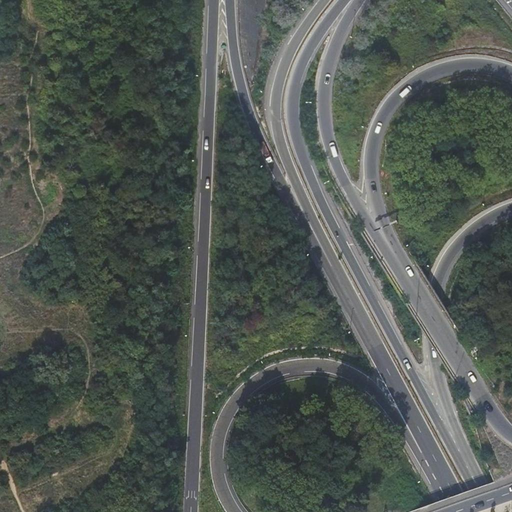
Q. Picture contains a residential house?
No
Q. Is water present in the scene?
No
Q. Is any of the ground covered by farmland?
No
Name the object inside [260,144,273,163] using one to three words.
vehicle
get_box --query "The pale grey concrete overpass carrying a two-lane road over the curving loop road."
[402,274,476,372]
